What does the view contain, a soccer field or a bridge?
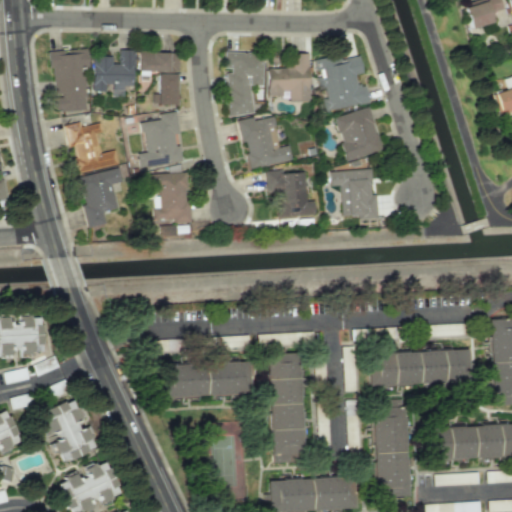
bridge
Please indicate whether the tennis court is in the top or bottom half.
bottom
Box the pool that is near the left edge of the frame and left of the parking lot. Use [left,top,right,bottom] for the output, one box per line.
[18,454,44,471]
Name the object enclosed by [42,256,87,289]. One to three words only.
bridge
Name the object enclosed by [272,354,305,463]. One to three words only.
building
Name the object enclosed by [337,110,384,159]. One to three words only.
house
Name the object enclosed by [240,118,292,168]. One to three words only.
house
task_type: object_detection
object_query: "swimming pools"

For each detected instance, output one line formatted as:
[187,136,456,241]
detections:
[323,128,336,151]
[18,454,44,471]
[277,102,296,114]
[326,192,336,214]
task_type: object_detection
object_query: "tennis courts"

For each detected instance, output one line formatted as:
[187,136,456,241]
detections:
[208,422,246,502]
